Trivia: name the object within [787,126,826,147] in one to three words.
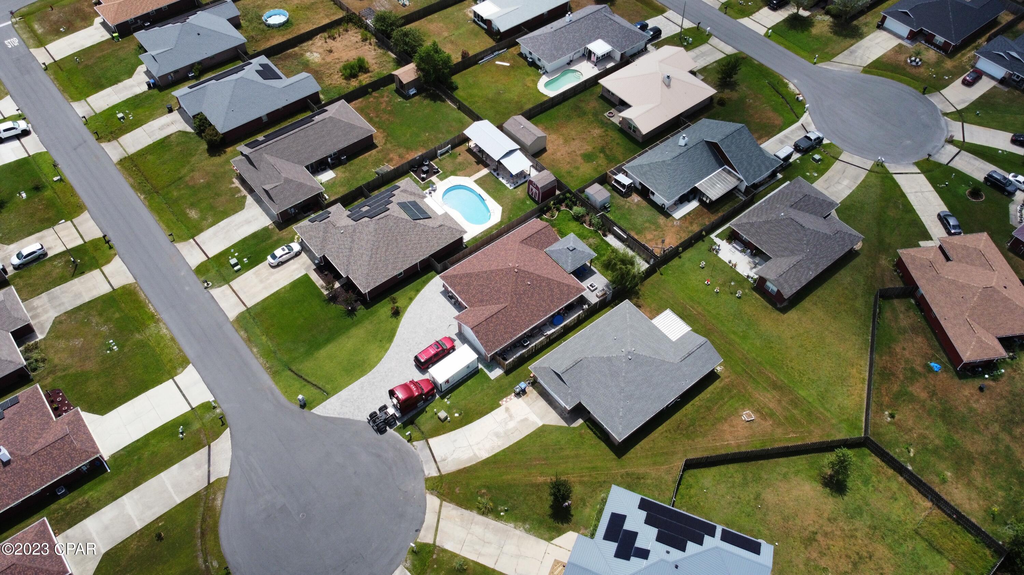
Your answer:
truck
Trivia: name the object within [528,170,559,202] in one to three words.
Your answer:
shed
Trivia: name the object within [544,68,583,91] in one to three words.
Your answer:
swimming pool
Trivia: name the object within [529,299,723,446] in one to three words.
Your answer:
house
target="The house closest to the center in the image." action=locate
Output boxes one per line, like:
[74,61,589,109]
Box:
[438,217,587,363]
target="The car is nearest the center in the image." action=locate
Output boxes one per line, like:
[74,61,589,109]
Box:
[413,337,459,370]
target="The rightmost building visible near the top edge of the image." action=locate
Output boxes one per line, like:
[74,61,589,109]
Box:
[972,19,1024,88]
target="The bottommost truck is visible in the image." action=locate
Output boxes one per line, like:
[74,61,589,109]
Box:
[363,376,443,431]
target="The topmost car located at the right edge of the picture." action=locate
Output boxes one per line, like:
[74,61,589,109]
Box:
[960,66,985,84]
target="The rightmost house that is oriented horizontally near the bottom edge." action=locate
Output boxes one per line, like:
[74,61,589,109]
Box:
[562,484,775,575]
